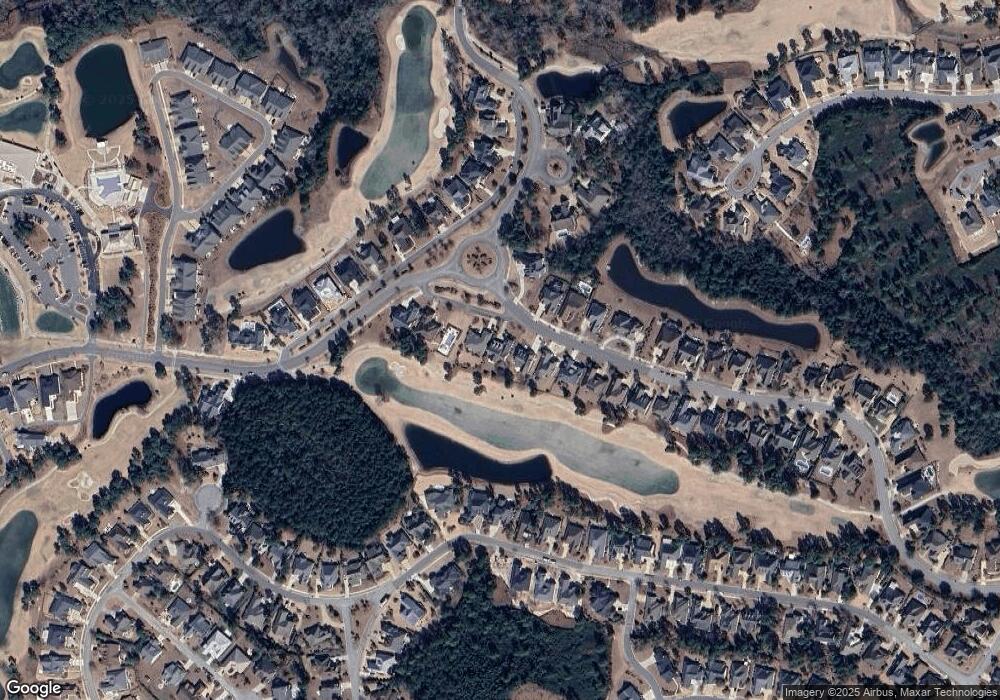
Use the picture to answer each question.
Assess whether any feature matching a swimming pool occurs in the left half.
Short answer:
Yes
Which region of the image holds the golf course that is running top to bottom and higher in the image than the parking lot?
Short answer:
top left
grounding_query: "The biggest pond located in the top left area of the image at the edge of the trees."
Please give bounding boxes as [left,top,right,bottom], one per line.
[75,44,140,138]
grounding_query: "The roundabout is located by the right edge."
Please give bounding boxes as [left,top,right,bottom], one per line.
[950,158,1000,197]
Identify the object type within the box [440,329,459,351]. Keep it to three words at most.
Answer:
swimming pool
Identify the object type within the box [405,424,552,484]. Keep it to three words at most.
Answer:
pond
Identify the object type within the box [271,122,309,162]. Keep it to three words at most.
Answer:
house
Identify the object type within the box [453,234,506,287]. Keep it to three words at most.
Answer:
roundabout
